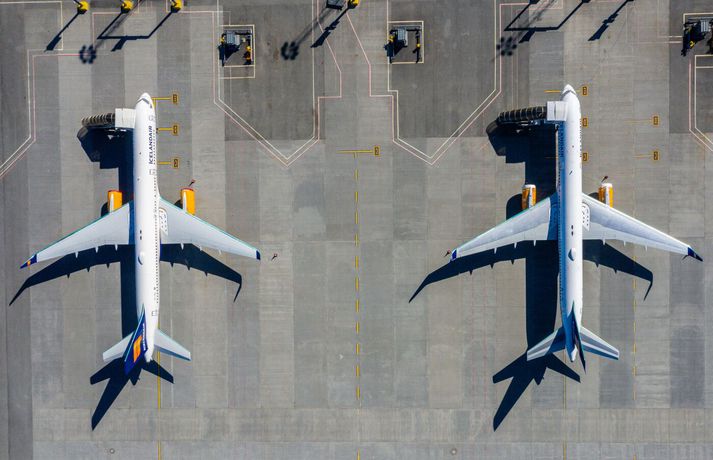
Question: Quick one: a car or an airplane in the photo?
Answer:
airplane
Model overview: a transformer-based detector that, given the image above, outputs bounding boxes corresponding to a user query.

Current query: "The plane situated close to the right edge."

[451,84,704,373]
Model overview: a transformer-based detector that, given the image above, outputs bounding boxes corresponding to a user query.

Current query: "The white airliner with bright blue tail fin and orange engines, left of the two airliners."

[20,92,260,375]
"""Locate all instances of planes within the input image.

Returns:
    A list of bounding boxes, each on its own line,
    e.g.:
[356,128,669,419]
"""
[451,84,704,373]
[20,92,260,375]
